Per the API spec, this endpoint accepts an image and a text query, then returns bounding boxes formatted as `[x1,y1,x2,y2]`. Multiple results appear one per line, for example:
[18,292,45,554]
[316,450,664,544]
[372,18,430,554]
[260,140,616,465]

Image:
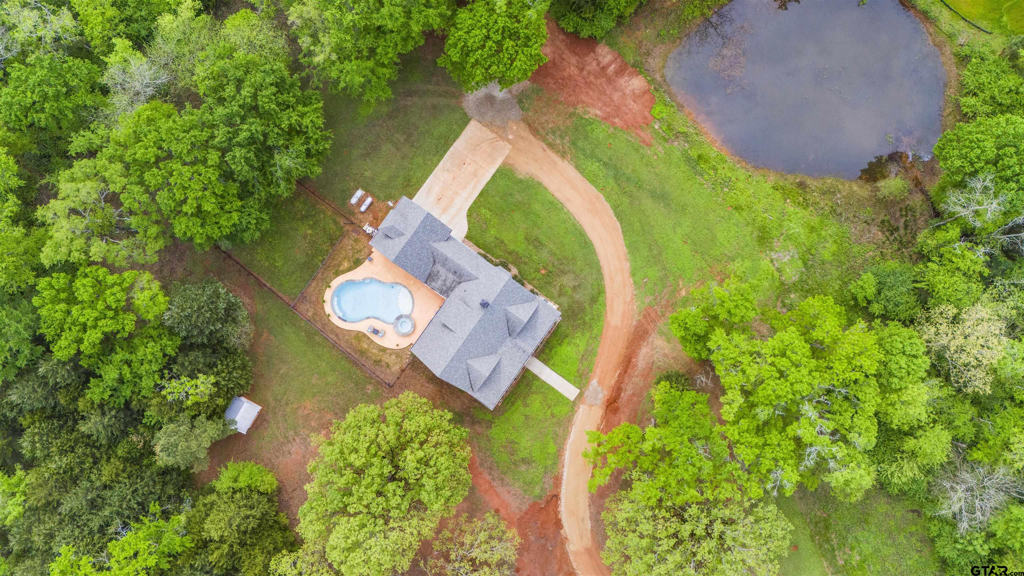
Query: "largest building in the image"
[368,195,563,410]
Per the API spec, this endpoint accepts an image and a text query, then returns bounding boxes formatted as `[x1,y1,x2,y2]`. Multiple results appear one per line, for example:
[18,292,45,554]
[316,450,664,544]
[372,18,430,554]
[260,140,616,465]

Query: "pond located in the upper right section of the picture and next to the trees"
[669,0,940,179]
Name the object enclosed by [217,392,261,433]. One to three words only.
shed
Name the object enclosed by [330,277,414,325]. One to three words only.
swimming pool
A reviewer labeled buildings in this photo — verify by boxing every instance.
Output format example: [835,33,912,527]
[217,392,261,433]
[368,195,563,410]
